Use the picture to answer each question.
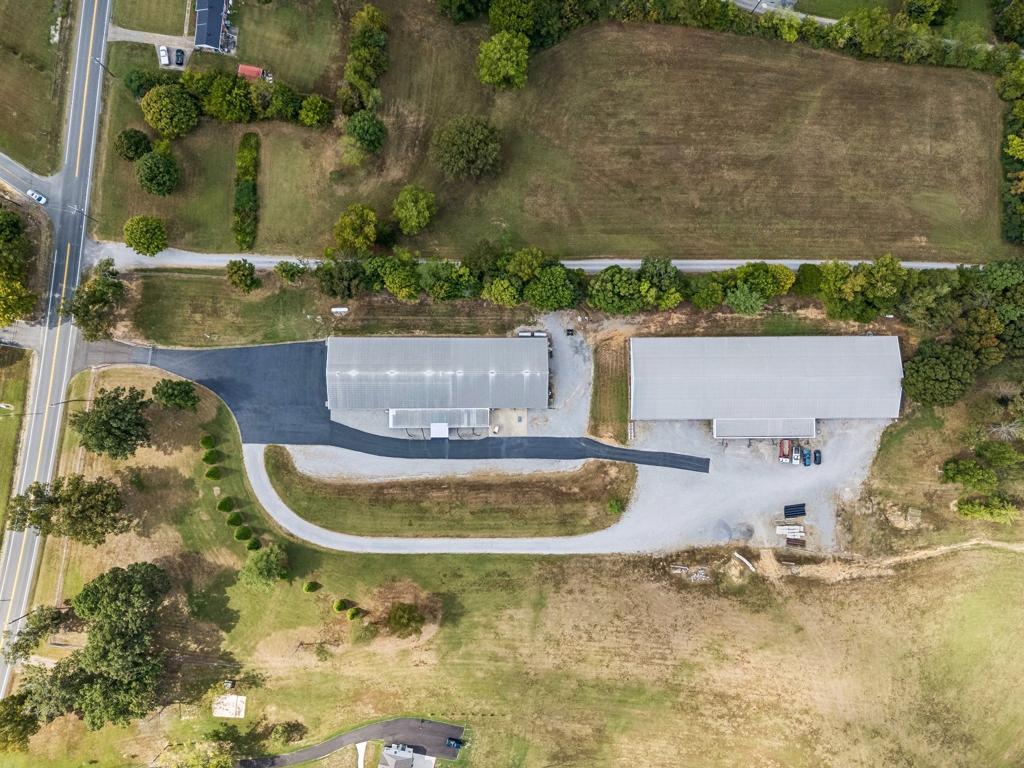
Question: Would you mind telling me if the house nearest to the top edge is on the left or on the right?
left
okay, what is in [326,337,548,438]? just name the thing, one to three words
building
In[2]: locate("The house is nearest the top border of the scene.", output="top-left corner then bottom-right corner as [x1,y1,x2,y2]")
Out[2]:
[194,0,226,53]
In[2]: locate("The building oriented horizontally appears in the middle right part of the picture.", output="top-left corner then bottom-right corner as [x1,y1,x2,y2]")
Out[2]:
[629,336,904,443]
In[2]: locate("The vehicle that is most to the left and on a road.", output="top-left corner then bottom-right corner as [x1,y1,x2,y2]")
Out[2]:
[27,189,47,204]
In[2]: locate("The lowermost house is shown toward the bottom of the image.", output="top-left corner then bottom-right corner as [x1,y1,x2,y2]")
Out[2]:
[376,740,415,768]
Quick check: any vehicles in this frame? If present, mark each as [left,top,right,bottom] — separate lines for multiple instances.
[802,448,812,467]
[792,446,801,465]
[175,49,184,66]
[159,45,169,66]
[779,440,792,463]
[444,738,464,748]
[27,189,47,204]
[813,449,822,465]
